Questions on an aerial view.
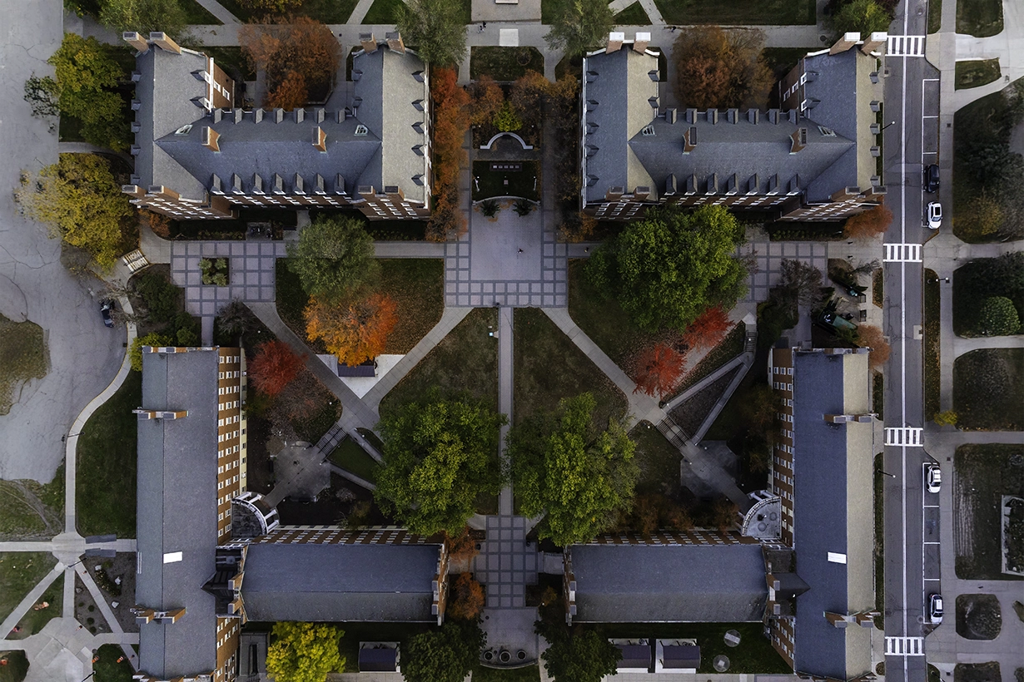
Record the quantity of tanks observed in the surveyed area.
0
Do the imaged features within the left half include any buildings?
Yes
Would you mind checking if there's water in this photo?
No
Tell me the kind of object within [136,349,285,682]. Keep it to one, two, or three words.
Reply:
building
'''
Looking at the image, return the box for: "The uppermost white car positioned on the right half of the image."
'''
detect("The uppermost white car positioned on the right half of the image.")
[926,200,943,229]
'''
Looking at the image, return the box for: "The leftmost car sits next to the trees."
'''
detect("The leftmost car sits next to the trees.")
[98,299,116,327]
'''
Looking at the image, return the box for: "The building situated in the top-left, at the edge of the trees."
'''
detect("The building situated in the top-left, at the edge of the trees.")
[123,29,432,214]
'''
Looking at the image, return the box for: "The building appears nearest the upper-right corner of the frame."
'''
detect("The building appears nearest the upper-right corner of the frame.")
[579,29,890,214]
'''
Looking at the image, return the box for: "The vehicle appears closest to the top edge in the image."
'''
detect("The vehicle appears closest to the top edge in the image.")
[925,162,941,192]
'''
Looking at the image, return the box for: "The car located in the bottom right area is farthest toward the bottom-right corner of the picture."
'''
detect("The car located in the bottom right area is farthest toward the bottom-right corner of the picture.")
[928,595,945,624]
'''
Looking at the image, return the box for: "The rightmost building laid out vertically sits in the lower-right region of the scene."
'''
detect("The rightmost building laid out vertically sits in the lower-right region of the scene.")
[728,349,875,682]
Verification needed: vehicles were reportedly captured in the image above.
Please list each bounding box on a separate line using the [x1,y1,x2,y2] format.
[98,299,116,327]
[925,162,941,192]
[926,200,943,229]
[928,595,945,624]
[925,463,942,493]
